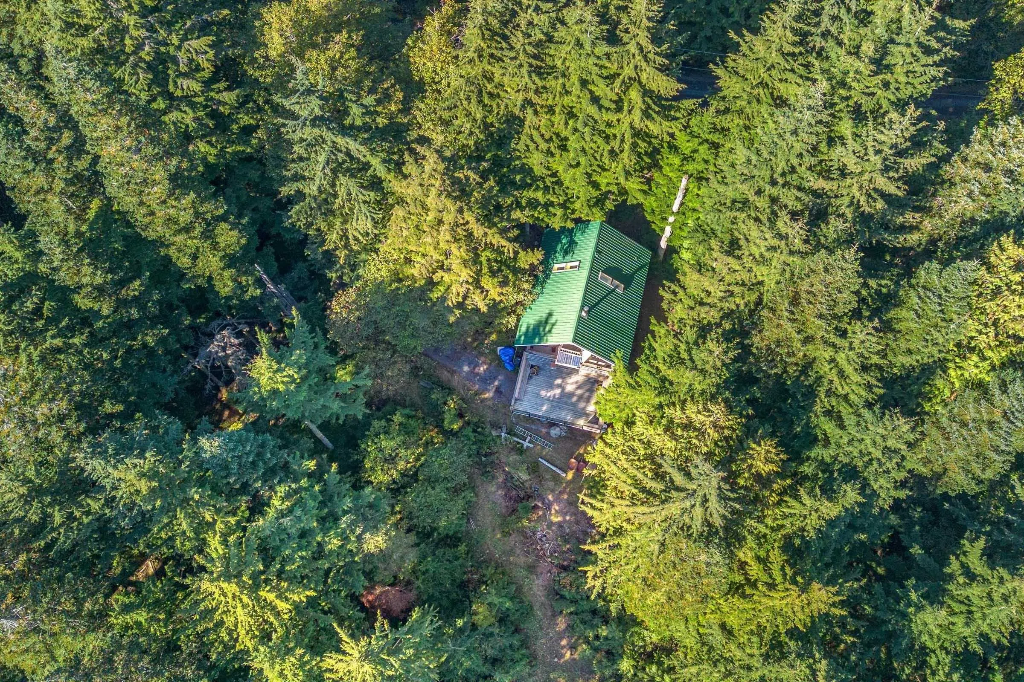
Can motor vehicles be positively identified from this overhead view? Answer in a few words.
No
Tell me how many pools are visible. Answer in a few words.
none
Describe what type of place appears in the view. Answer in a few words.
forest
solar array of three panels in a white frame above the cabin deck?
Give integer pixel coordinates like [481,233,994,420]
[555,345,583,369]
